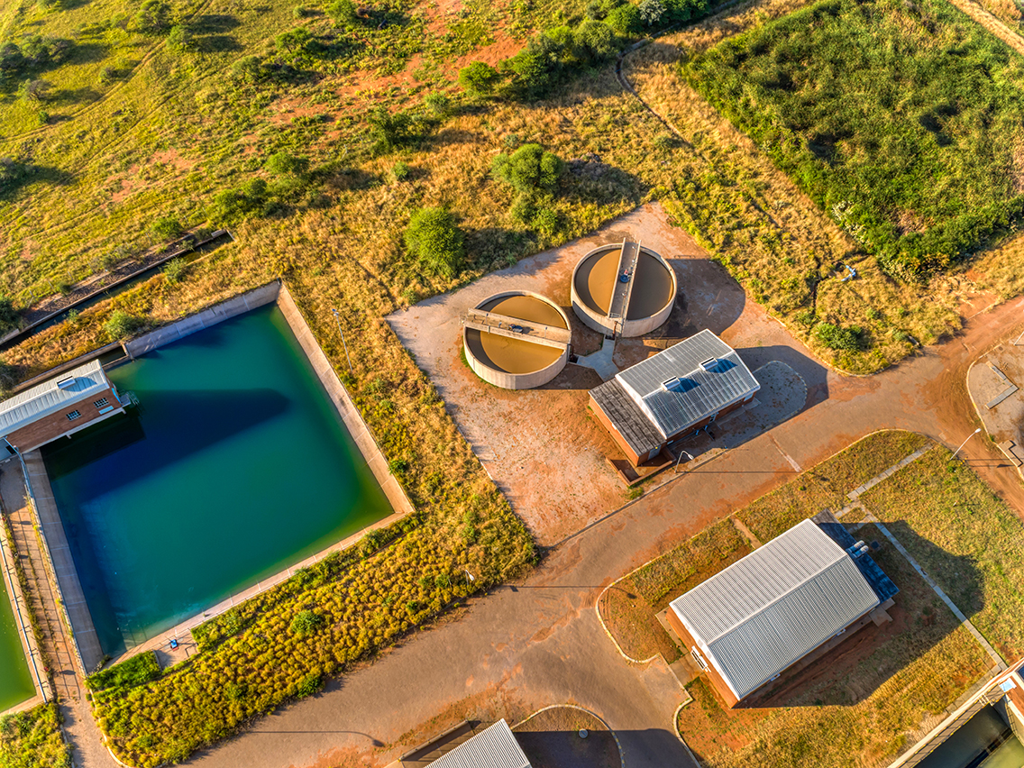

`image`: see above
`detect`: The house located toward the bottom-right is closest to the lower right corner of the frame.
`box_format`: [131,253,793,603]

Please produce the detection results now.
[993,660,1024,716]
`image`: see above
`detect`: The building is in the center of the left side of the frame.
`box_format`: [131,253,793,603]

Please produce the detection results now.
[0,358,140,459]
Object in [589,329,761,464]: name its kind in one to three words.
building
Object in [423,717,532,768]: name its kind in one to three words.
building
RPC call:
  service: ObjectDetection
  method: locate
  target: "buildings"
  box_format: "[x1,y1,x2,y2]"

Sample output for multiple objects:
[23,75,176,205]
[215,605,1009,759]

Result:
[423,717,532,768]
[667,509,900,705]
[589,329,761,464]
[993,660,1024,716]
[0,358,140,459]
